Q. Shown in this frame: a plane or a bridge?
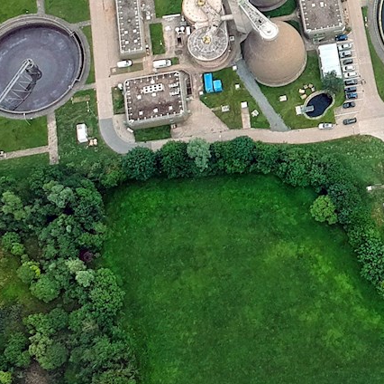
bridge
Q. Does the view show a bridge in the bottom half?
No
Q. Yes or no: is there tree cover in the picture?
Yes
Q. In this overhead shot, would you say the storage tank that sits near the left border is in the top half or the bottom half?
top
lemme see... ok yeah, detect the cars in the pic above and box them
[343,78,360,87]
[342,70,359,79]
[342,116,359,125]
[338,42,354,51]
[340,56,357,66]
[341,64,357,72]
[341,99,358,110]
[335,33,350,42]
[339,49,354,58]
[344,90,360,99]
[343,85,359,94]
[318,122,334,129]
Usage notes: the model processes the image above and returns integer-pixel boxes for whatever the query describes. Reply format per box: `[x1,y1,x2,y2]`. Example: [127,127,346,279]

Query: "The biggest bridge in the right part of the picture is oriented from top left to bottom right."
[244,7,281,42]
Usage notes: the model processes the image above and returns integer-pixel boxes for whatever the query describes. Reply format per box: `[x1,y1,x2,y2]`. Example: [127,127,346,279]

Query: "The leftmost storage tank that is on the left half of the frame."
[0,12,90,122]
